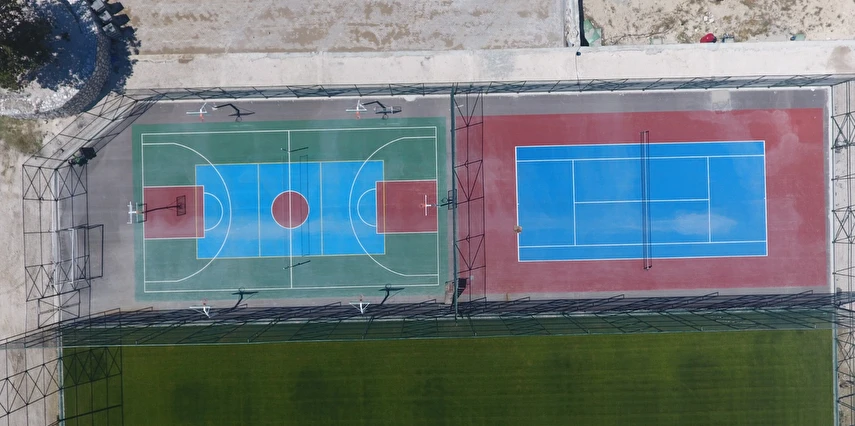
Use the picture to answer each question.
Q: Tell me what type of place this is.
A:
sports ground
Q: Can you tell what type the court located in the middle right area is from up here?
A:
tennis court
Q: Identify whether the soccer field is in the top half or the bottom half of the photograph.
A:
bottom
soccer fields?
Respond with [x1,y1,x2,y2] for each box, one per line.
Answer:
[63,312,832,426]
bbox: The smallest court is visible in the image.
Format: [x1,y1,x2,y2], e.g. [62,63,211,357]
[195,160,386,259]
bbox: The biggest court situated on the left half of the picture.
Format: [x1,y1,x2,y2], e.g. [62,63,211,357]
[132,117,448,302]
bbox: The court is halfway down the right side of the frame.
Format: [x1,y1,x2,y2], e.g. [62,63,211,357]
[457,108,827,293]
